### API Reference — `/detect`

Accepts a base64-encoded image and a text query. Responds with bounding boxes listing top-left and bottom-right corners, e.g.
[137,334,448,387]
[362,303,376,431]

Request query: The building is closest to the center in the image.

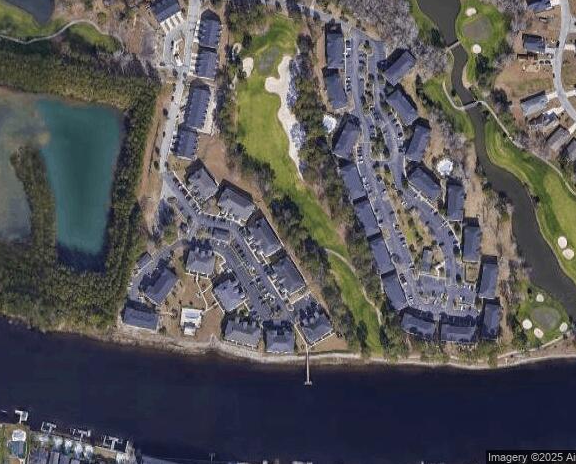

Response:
[247,216,283,255]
